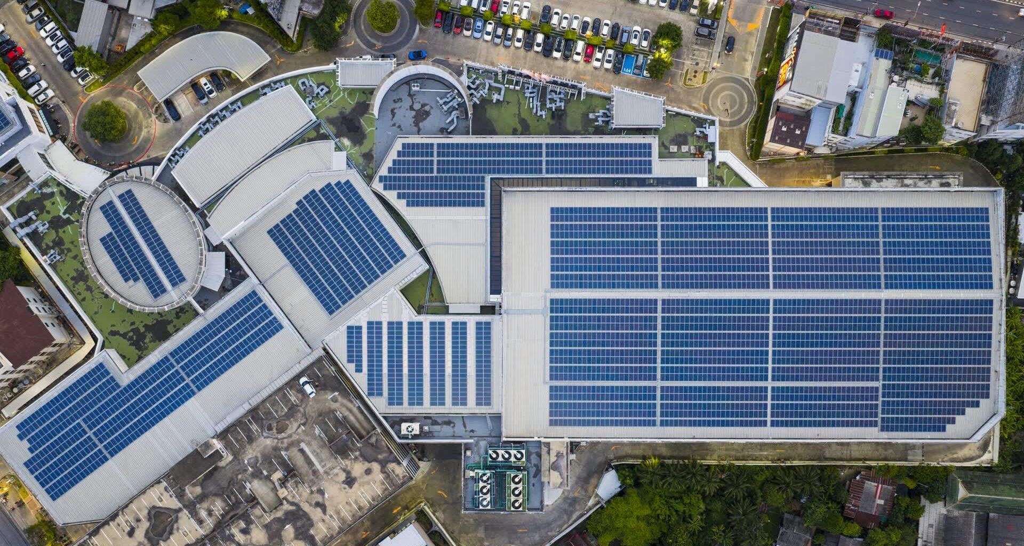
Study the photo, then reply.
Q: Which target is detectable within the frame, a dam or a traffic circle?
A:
traffic circle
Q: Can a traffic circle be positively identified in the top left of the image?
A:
Yes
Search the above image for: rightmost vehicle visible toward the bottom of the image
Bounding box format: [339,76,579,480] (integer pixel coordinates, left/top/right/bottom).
[299,376,317,398]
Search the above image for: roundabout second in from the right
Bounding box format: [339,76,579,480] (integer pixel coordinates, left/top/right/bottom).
[355,0,416,51]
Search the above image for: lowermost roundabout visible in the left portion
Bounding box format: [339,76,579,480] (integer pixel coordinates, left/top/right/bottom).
[74,85,154,160]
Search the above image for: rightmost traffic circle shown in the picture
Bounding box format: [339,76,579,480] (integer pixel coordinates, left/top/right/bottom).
[703,76,754,127]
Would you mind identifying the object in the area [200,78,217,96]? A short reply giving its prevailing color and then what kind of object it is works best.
white car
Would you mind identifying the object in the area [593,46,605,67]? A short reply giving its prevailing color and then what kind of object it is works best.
white vehicle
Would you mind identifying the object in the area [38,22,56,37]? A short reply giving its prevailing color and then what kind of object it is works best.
white car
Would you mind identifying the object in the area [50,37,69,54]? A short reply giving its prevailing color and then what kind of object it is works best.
white vehicle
